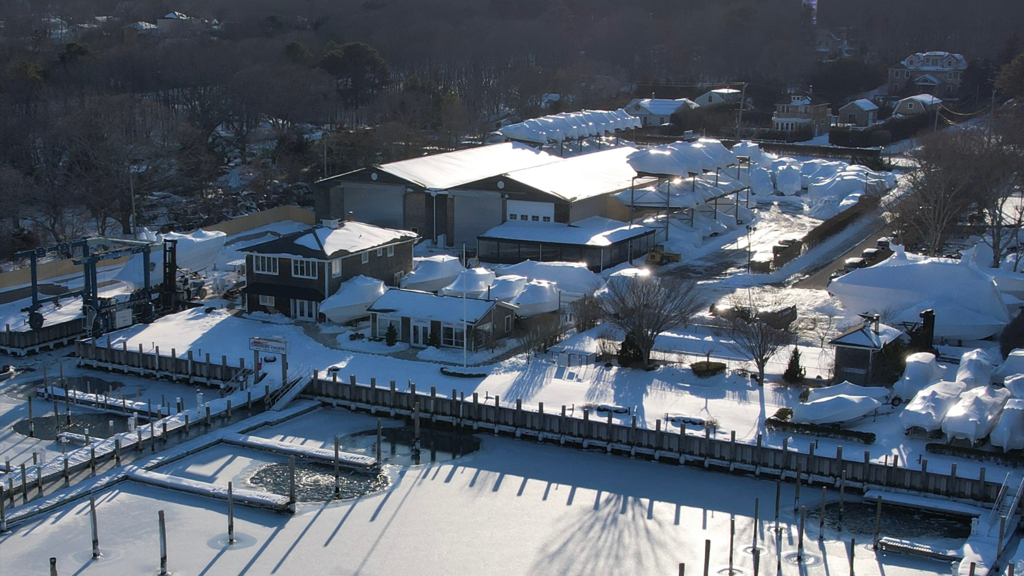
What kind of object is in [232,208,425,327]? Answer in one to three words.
building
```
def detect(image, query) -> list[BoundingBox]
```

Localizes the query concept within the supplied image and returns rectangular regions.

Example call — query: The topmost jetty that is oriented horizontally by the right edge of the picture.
[864,493,982,520]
